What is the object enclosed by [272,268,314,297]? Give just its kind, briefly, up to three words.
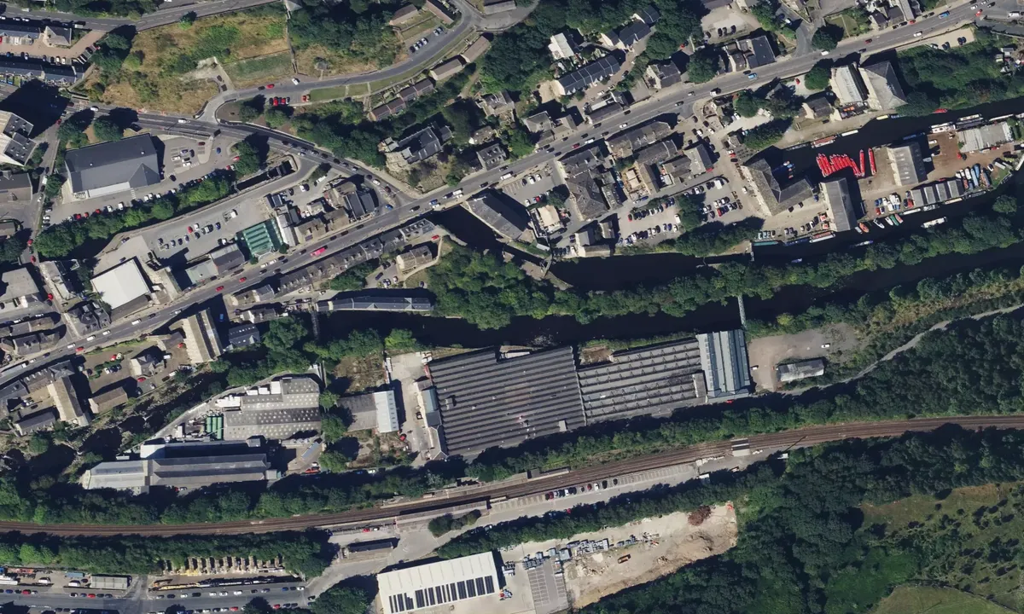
house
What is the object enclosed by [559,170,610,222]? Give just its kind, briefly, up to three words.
building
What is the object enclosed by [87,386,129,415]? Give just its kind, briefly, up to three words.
shed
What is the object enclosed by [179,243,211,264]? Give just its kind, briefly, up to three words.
shed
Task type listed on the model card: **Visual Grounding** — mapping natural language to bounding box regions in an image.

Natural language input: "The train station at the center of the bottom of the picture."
[321,470,567,556]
